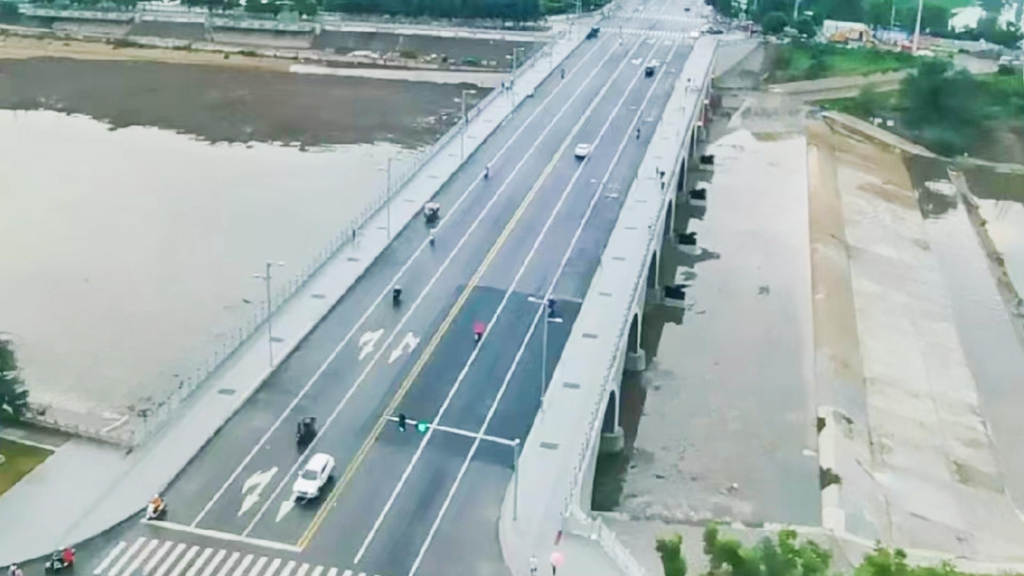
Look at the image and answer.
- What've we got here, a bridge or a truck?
bridge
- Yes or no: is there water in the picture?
Yes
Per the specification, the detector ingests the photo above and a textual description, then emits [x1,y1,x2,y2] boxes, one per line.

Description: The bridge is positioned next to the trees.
[129,27,720,495]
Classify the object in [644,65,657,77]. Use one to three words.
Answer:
vehicle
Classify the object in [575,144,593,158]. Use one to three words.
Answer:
car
